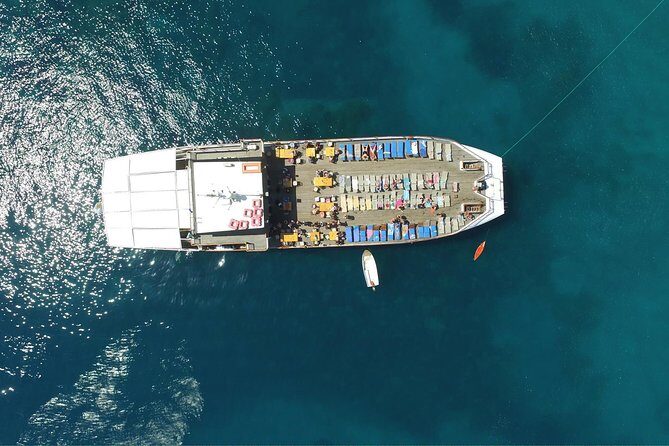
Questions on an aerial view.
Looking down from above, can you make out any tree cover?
No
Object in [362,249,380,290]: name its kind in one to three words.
boat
